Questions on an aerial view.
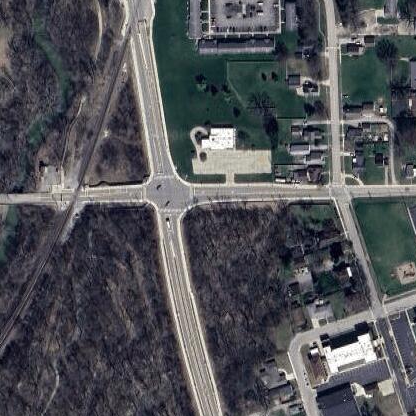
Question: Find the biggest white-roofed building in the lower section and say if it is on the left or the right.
right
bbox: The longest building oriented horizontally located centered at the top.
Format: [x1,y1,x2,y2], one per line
[217,38,274,52]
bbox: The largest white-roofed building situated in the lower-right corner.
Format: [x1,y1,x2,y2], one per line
[323,333,378,375]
